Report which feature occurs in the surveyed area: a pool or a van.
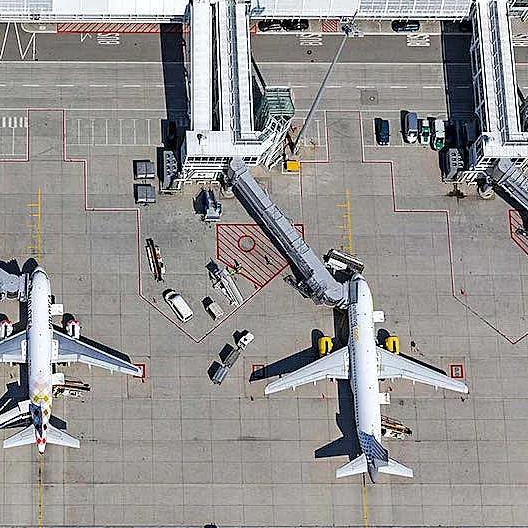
van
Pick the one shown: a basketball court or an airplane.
airplane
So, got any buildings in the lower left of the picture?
No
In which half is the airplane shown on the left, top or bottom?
bottom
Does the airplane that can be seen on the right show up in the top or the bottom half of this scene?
bottom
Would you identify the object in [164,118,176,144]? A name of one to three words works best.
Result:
vehicle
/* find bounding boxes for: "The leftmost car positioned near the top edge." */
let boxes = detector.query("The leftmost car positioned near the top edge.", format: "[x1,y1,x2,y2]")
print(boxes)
[257,20,283,32]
